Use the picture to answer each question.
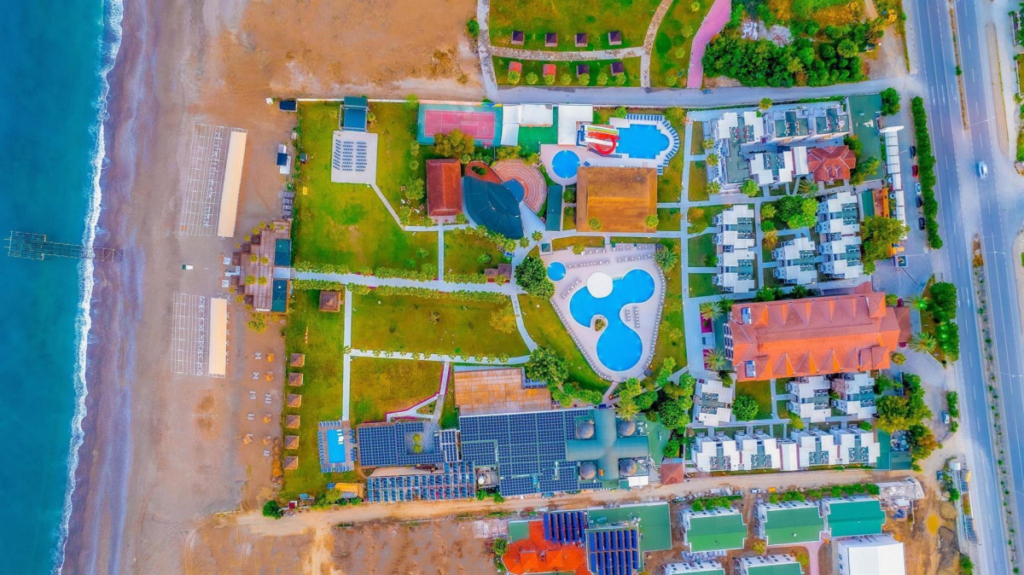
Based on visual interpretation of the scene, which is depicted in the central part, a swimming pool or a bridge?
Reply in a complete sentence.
Visible in the central part is a swimming pool.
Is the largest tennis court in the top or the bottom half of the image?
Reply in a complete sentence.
It is in the top half that the largest tennis court appears.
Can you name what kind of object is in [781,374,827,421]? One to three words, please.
house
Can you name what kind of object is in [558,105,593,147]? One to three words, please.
building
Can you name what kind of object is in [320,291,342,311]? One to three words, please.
gazebo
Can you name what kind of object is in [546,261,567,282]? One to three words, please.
swimming pool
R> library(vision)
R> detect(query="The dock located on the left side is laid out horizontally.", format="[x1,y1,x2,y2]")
[4,231,123,263]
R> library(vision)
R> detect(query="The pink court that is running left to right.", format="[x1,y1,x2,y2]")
[417,104,502,147]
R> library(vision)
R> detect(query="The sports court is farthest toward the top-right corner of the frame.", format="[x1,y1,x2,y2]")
[517,107,558,145]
